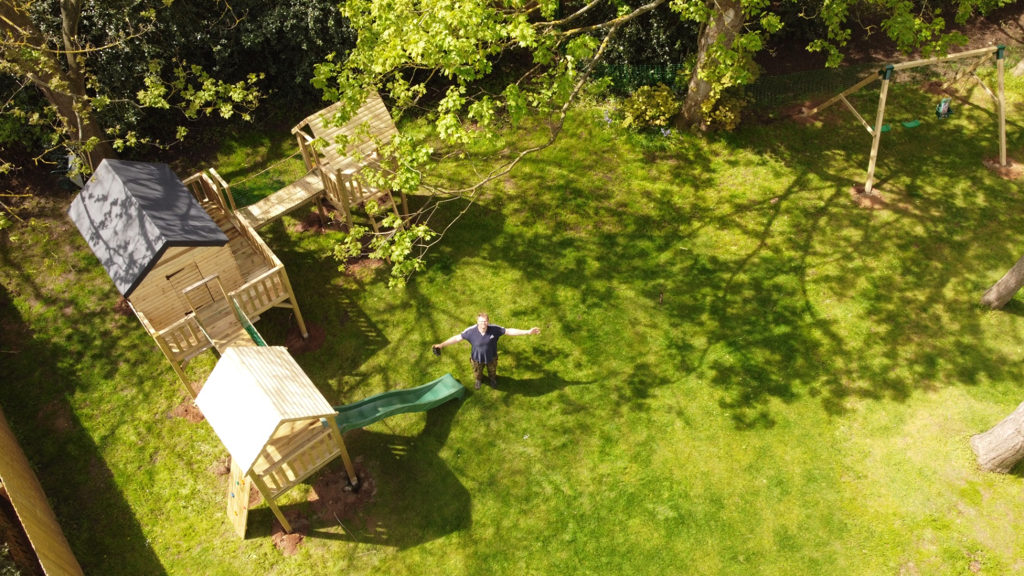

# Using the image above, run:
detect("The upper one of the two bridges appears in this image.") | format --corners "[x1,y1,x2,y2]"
[222,149,324,228]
